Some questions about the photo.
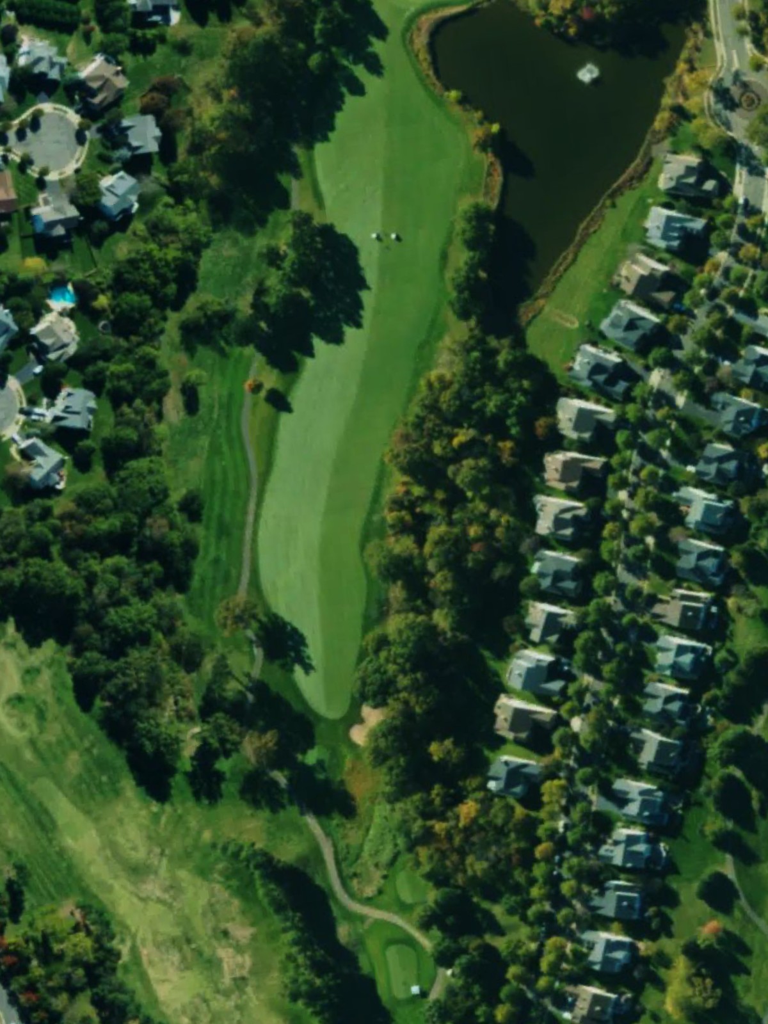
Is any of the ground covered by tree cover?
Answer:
Yes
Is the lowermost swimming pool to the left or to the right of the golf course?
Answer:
on the left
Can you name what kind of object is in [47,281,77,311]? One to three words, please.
swimming pool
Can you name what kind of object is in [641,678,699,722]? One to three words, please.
house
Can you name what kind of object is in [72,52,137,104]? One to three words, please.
house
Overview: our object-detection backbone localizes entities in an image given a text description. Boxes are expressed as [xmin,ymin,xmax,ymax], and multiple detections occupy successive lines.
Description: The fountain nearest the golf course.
[576,62,599,83]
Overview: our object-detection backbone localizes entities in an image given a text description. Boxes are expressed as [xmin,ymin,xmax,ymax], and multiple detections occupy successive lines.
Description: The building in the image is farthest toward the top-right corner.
[647,150,720,201]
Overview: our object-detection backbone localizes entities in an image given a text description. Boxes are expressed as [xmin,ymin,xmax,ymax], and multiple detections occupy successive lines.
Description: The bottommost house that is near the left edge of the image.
[14,438,79,487]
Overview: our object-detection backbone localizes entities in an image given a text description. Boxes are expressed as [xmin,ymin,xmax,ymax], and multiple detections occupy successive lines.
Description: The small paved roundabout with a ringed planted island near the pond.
[723,71,768,135]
